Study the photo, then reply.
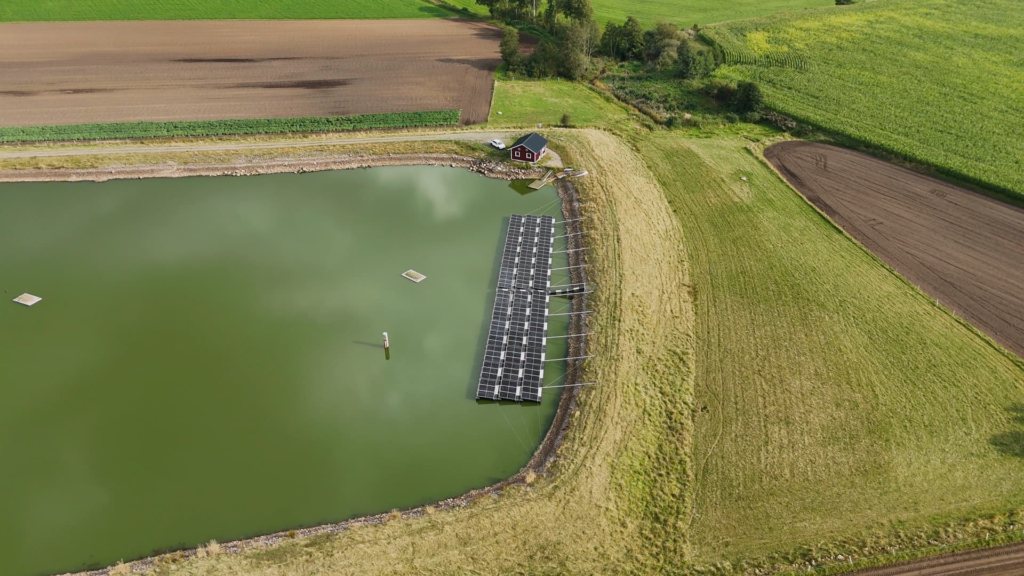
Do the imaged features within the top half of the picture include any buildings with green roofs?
No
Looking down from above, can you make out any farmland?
Yes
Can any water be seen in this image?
Yes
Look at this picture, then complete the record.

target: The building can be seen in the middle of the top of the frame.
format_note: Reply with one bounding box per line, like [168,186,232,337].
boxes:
[509,135,543,163]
